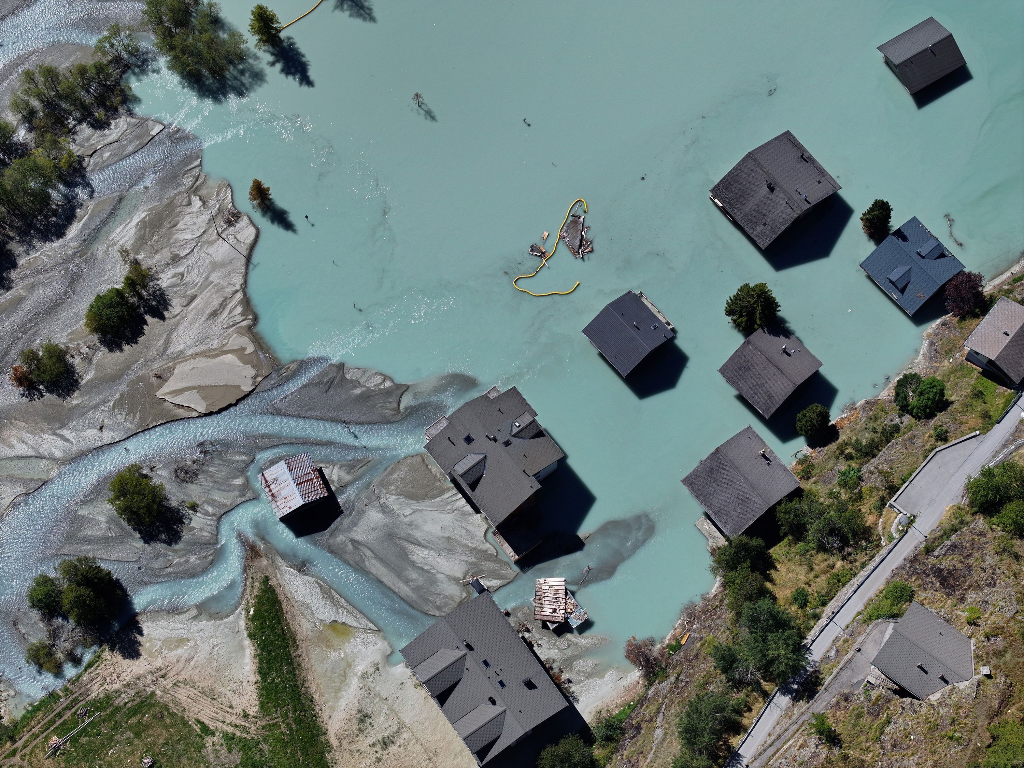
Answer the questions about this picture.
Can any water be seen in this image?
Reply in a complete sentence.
Yes, there's water in this view.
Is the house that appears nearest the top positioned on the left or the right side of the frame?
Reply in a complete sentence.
It is on the right.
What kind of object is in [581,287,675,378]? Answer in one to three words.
house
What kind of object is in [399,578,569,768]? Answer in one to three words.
house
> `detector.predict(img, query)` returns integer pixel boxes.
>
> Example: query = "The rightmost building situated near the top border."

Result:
[876,16,967,96]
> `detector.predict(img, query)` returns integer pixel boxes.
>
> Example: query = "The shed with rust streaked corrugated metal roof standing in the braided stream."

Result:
[258,452,328,519]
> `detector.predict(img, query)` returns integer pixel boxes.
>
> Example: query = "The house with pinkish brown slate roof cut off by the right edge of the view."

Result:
[956,295,1024,389]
